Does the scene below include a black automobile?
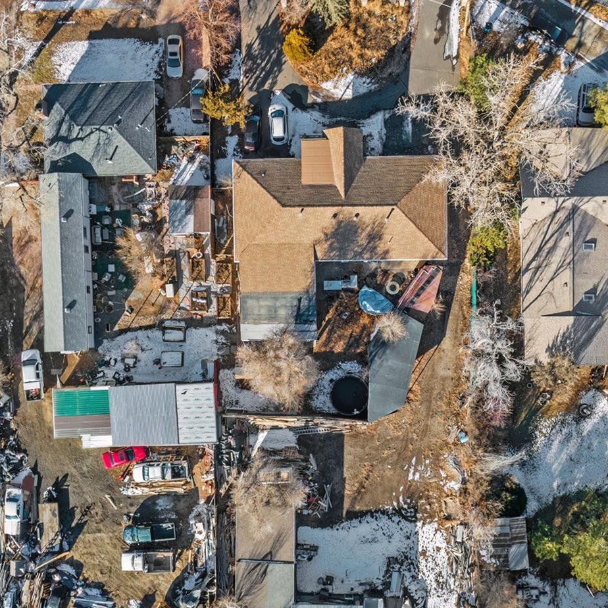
Yes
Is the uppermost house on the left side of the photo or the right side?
left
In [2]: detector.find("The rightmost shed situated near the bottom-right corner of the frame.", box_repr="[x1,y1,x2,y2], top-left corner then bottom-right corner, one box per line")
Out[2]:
[489,515,529,570]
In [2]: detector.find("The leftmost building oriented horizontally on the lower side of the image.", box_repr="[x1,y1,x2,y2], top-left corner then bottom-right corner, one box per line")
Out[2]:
[51,383,219,448]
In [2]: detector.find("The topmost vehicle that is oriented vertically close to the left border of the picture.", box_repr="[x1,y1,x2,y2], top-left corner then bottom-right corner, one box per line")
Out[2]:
[16,350,41,403]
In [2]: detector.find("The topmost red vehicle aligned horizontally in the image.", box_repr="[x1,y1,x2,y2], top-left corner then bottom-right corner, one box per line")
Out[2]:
[102,446,146,470]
